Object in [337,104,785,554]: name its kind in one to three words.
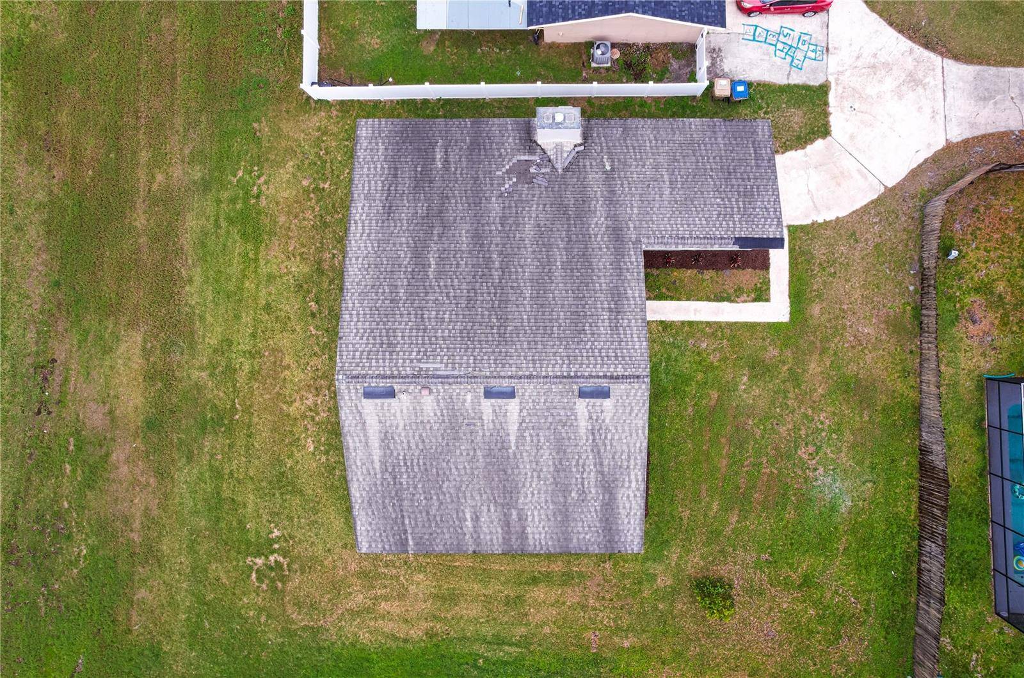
house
